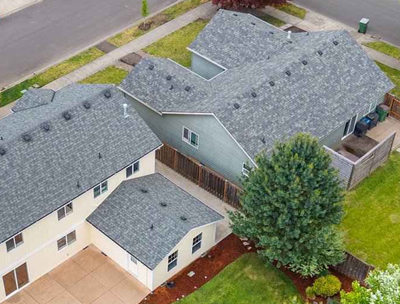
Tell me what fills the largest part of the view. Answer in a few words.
buildings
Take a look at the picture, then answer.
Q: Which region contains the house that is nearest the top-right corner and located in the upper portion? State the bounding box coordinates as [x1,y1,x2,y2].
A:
[115,10,396,199]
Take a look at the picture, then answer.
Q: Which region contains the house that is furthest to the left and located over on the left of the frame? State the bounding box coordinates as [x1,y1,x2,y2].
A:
[0,85,227,303]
